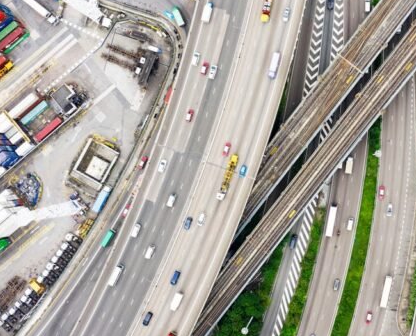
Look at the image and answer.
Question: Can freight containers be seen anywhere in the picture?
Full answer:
Yes, there's a freight container down there.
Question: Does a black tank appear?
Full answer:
No, no black tank is visible in the scene.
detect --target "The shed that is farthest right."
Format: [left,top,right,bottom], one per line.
[133,45,159,82]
